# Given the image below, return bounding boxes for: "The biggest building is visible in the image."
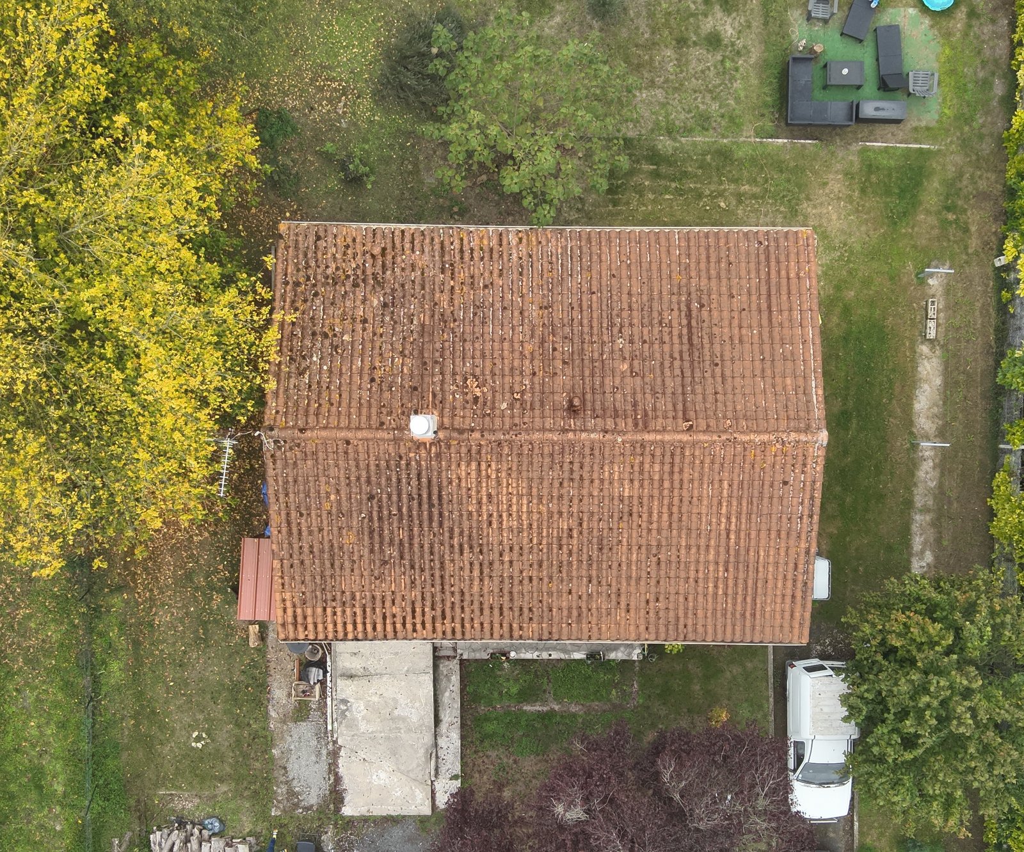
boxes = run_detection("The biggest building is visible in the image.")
[264,221,832,648]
